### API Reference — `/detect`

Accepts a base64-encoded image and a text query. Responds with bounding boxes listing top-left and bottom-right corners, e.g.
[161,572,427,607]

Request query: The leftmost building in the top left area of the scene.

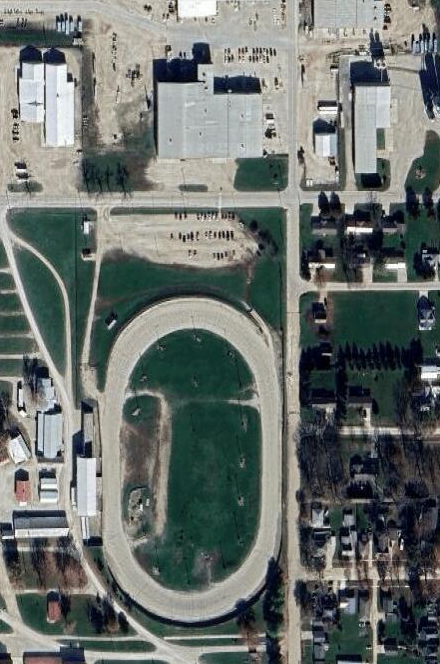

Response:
[19,62,43,122]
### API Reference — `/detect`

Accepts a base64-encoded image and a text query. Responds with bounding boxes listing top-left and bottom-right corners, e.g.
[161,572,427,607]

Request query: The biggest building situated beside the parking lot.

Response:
[157,64,262,158]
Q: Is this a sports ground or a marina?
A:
sports ground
